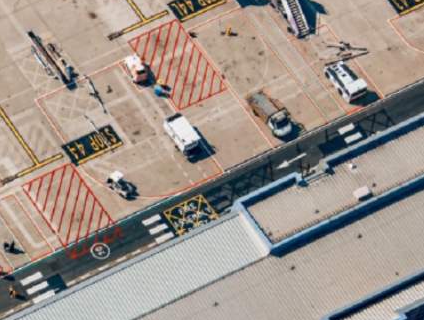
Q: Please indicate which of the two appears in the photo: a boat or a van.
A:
van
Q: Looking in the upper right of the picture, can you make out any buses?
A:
Yes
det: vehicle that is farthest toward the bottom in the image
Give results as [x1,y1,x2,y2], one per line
[107,170,135,197]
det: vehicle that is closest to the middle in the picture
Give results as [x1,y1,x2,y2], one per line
[161,118,204,160]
